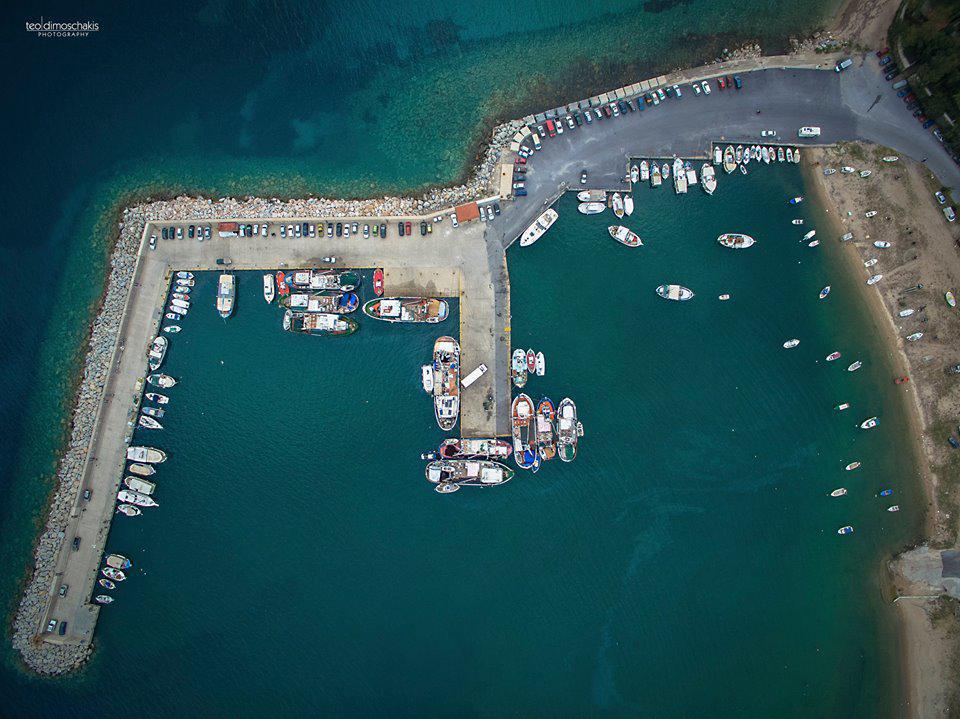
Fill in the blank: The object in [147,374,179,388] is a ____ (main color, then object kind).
white boat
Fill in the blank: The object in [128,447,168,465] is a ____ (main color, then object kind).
white boat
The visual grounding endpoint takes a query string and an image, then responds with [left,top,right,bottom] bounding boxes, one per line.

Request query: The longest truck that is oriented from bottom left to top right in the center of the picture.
[461,364,488,387]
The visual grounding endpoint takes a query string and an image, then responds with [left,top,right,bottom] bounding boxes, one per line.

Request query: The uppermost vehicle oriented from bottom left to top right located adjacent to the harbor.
[832,57,853,73]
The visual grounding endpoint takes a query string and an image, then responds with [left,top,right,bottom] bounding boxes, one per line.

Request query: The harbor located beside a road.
[42,67,846,642]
